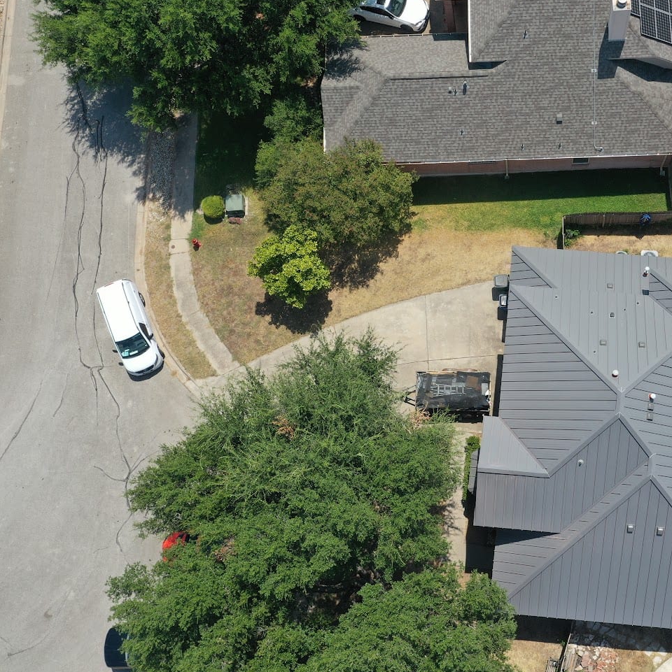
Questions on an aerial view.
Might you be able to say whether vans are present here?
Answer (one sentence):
Yes, looking at the shot, I can spot a van.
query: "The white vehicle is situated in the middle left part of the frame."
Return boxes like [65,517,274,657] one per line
[99,285,171,382]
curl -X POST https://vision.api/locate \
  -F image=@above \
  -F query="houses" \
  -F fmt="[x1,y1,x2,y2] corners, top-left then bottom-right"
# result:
[474,245,672,629]
[321,0,672,190]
